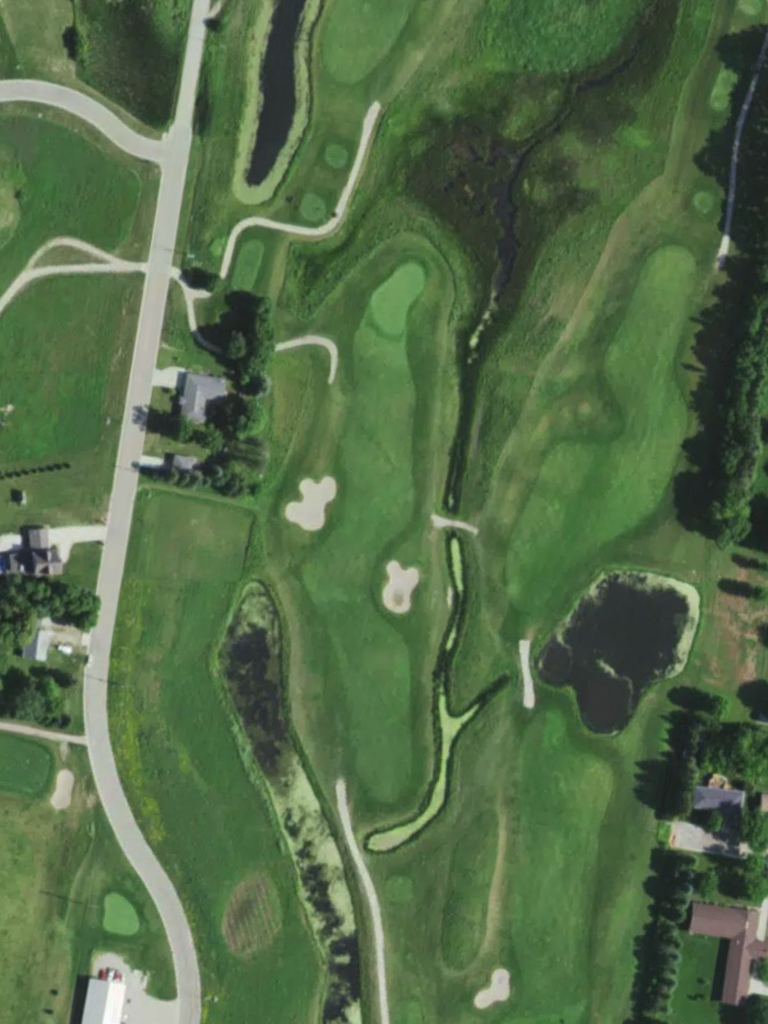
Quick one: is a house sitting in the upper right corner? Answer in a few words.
No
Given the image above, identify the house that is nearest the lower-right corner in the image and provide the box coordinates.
[688,902,768,1009]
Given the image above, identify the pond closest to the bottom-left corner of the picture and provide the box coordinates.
[220,581,361,1024]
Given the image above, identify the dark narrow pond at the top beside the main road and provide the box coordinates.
[234,0,322,204]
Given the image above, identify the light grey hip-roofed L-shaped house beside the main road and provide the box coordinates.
[179,370,231,423]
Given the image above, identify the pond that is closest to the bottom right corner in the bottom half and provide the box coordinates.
[536,568,700,736]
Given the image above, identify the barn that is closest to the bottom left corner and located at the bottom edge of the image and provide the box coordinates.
[82,982,126,1024]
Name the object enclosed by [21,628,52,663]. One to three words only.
shed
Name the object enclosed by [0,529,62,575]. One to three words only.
house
